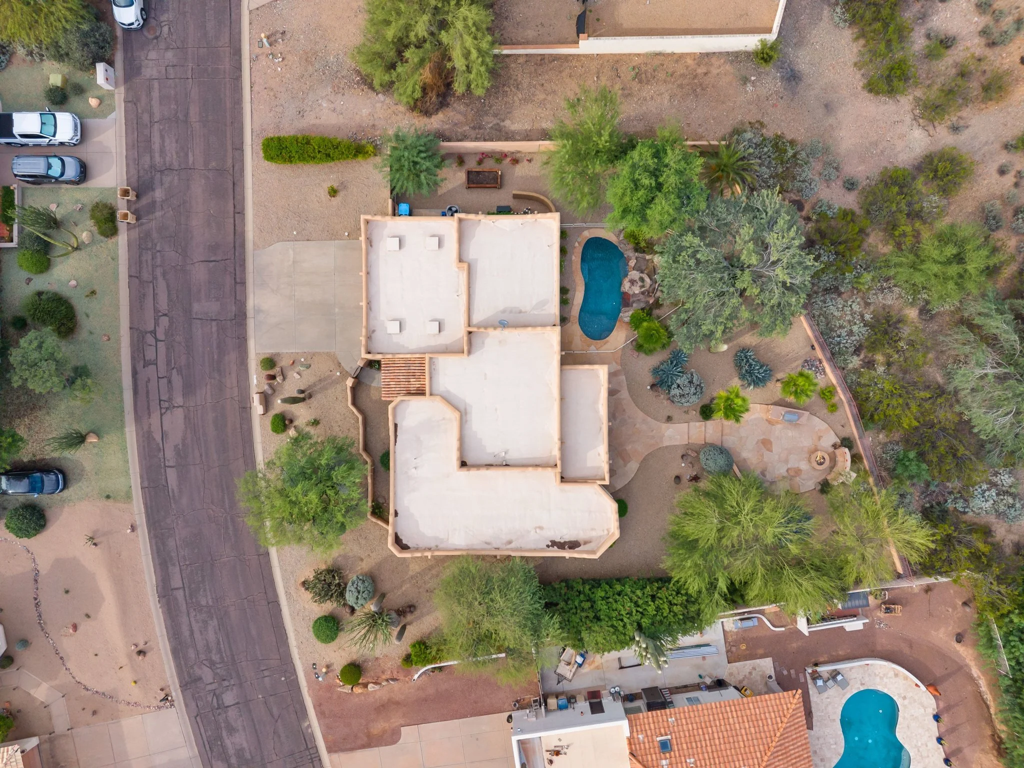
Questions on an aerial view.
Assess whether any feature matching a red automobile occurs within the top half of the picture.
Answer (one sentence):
No, no red automobile appears within the top half of the picture.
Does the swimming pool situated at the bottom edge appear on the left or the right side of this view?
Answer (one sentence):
The swimming pool situated at the bottom edge is on the right side of the image.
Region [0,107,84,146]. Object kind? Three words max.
truck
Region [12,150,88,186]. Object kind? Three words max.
car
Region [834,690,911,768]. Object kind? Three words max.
swimming pool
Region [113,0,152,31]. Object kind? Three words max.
car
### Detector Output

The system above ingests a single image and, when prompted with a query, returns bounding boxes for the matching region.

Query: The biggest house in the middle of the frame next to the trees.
[356,209,619,562]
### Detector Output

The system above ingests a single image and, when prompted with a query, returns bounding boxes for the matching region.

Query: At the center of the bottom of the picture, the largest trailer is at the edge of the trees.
[551,644,588,691]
